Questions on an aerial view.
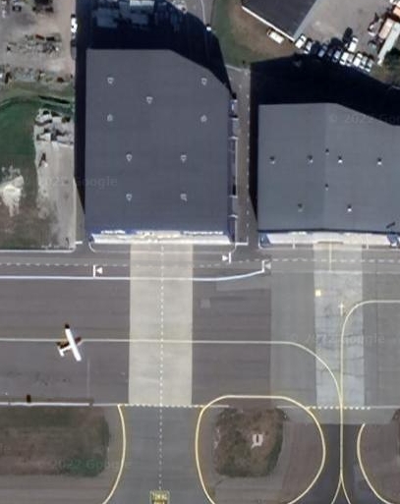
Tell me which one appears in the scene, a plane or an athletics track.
plane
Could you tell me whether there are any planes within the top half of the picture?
No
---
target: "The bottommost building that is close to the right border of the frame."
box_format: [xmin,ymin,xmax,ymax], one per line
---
[258,103,400,246]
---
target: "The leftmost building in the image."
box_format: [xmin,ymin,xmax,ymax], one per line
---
[85,48,242,246]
